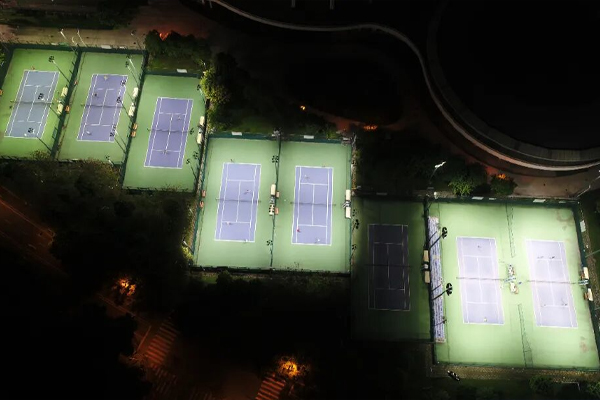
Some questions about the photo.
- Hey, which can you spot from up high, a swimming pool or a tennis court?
tennis court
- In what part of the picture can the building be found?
top right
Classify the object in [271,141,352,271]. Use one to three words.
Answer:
tennis court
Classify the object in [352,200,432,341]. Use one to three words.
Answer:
tennis court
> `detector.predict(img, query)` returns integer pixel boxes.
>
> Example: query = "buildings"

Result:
[429,0,600,158]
